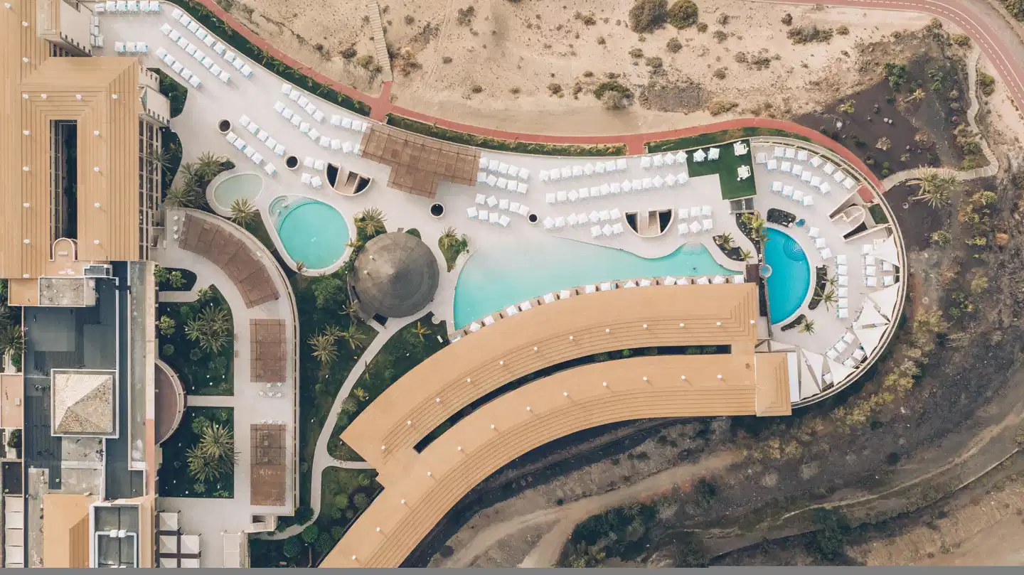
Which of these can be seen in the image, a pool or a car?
pool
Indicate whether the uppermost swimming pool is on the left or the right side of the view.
left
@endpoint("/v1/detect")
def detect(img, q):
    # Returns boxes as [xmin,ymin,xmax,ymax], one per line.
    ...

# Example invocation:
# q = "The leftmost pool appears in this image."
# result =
[211,171,265,212]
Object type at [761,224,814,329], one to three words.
swimming pool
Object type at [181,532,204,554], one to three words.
tent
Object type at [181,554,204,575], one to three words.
tent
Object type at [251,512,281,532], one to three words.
house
